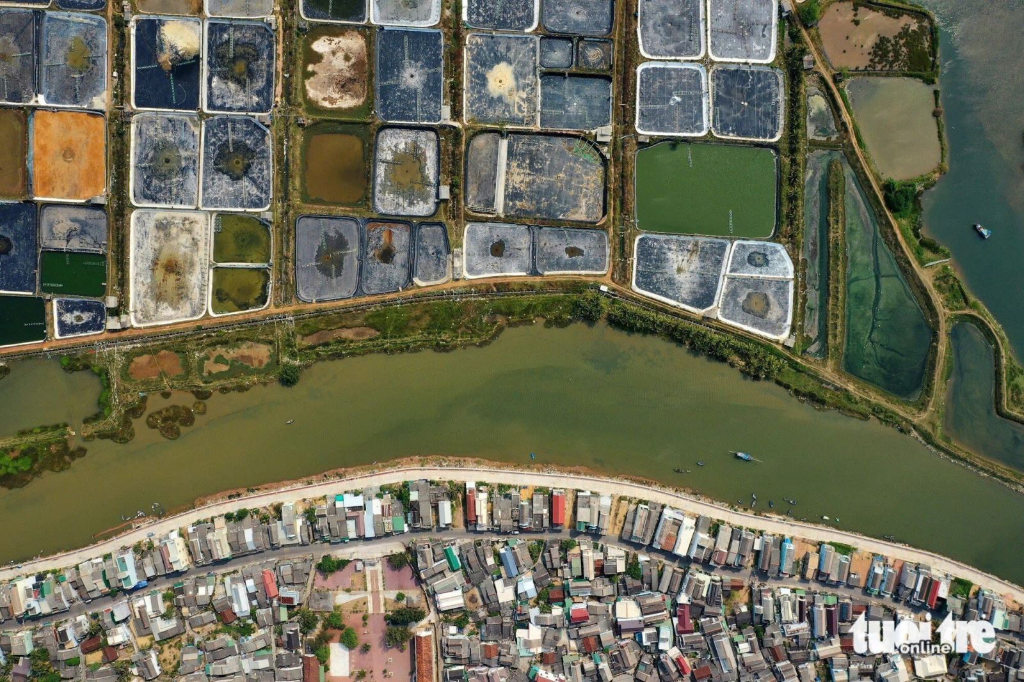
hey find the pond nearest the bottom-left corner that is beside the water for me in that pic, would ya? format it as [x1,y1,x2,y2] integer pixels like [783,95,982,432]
[0,358,100,439]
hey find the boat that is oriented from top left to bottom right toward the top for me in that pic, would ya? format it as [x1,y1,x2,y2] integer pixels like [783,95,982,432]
[975,224,991,238]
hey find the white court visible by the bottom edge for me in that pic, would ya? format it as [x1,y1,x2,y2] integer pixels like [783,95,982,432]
[330,643,349,677]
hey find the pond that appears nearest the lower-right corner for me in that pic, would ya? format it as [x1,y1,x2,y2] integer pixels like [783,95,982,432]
[942,324,1024,474]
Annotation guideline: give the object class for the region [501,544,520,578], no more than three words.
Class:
house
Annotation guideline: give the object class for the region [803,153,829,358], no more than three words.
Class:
pond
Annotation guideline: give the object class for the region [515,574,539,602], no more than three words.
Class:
house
